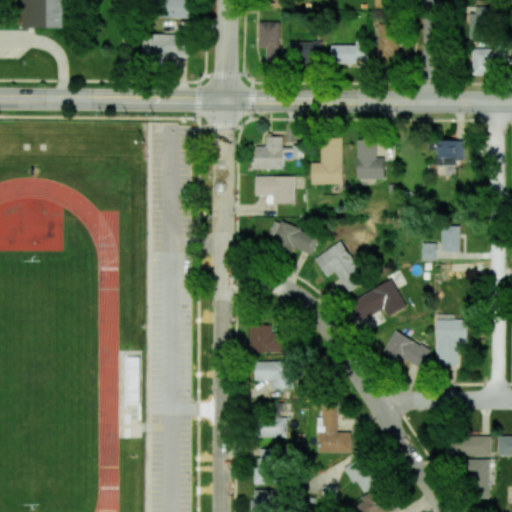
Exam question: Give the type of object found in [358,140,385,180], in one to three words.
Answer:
house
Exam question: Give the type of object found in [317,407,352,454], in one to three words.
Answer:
house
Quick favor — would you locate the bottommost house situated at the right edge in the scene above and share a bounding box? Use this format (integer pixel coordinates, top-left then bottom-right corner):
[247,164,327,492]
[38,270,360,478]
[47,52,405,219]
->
[468,460,490,500]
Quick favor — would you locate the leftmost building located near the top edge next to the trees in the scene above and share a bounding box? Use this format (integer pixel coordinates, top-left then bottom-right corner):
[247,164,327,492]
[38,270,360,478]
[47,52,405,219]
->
[22,0,62,28]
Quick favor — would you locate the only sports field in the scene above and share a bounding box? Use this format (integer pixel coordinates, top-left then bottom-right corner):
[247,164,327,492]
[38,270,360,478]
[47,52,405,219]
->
[0,200,98,512]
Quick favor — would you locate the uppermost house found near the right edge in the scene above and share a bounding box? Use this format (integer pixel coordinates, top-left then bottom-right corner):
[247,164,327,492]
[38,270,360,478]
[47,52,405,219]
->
[470,6,490,40]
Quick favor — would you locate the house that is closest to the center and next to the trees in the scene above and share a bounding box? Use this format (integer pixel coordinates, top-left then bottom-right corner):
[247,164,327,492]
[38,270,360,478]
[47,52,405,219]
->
[272,220,318,258]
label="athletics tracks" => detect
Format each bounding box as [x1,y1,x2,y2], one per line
[0,178,119,512]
